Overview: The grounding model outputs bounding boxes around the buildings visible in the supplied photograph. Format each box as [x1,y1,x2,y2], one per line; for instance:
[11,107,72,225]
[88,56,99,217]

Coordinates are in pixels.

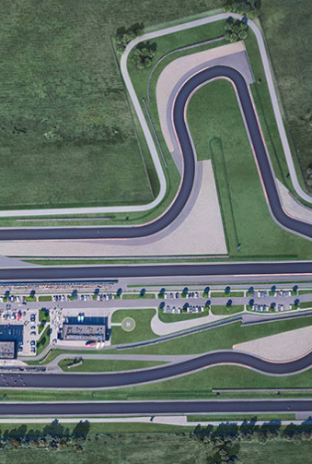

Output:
[0,342,17,359]
[57,326,106,341]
